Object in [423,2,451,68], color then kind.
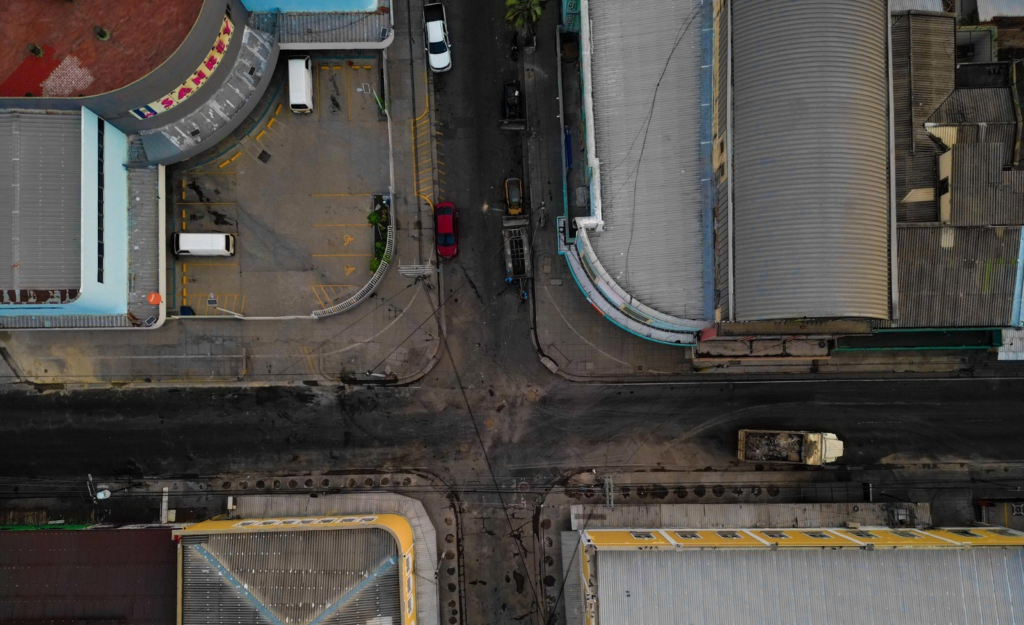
white truck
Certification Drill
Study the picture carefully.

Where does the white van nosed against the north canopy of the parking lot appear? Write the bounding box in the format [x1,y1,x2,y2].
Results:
[287,56,315,115]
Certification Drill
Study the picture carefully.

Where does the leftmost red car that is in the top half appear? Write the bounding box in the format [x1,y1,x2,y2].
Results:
[432,201,459,257]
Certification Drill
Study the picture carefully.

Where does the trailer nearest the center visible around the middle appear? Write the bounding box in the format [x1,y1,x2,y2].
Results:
[504,229,533,294]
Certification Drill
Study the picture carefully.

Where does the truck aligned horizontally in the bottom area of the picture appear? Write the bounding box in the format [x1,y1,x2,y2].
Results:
[732,429,845,468]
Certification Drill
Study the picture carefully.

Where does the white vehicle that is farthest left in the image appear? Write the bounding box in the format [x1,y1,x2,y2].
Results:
[172,230,235,257]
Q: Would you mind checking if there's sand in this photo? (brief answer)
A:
No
